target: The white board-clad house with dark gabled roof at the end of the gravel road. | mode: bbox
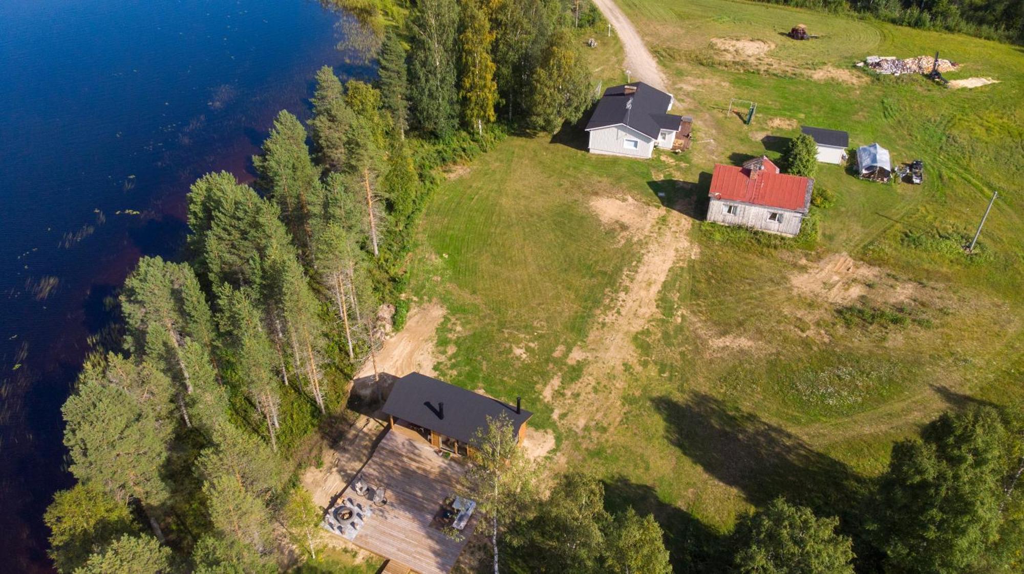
[585,81,683,159]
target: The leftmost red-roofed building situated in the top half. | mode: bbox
[707,154,814,236]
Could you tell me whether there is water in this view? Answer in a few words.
Yes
